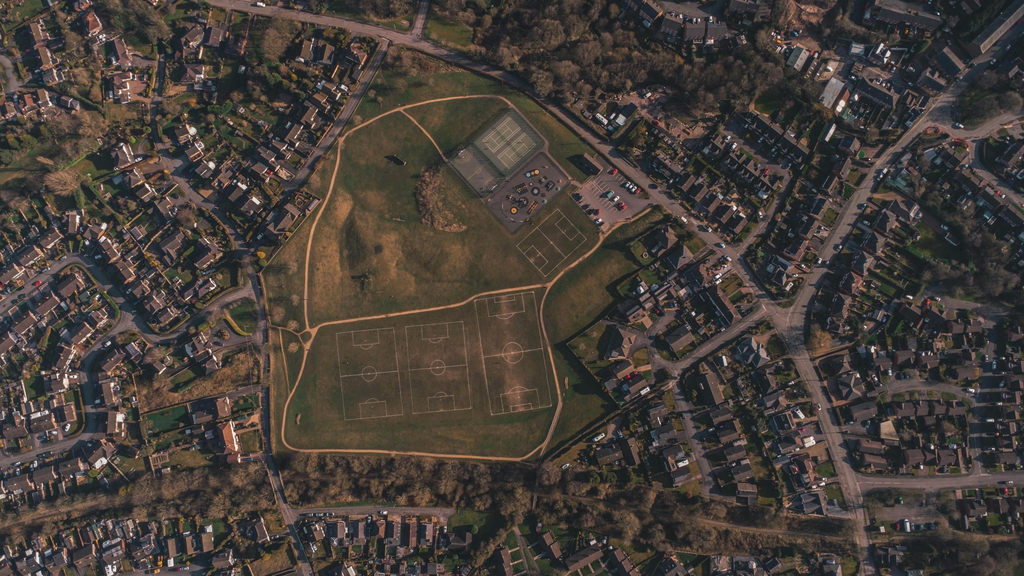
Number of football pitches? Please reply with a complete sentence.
In total, there are 4 football pitches in the scene.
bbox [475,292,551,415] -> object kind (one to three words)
soccer field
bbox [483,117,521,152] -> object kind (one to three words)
tennis court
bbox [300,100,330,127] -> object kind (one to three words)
house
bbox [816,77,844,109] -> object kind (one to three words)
building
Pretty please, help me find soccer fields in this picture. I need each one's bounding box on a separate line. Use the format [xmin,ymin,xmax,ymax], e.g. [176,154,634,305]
[475,292,551,415]
[336,328,403,420]
[517,209,587,277]
[406,321,471,414]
